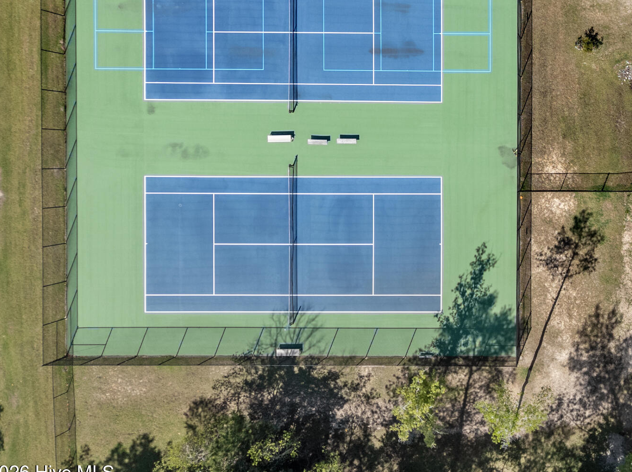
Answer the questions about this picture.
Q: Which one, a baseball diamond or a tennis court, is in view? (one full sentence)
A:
I can see a tennis court in this picture.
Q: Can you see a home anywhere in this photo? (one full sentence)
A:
No, no home can be seen from above.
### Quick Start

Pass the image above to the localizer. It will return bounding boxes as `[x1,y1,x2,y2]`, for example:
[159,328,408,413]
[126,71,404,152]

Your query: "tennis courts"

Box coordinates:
[66,139,517,357]
[66,0,517,139]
